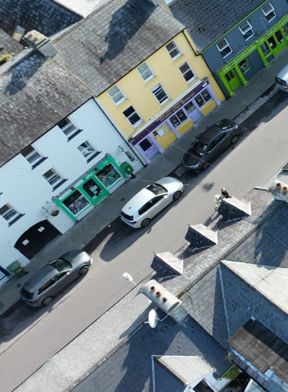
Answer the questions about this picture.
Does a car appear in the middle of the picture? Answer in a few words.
Yes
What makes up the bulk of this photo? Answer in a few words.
buildings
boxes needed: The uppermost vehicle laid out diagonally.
[178,120,244,175]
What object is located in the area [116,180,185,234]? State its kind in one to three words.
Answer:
car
